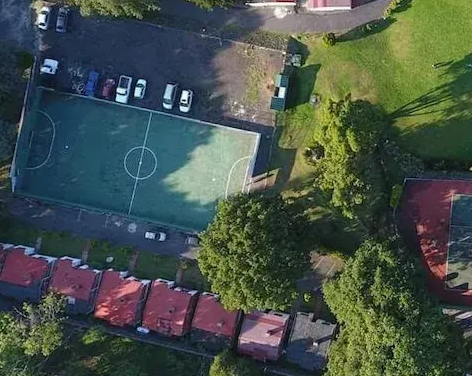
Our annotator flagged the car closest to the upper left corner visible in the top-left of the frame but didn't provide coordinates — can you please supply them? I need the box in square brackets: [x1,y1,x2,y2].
[37,6,51,30]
